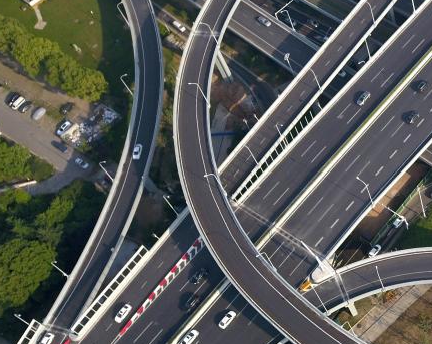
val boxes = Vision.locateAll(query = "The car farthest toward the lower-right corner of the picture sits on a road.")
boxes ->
[367,243,383,259]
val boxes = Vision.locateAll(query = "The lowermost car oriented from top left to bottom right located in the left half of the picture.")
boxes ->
[74,156,90,169]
